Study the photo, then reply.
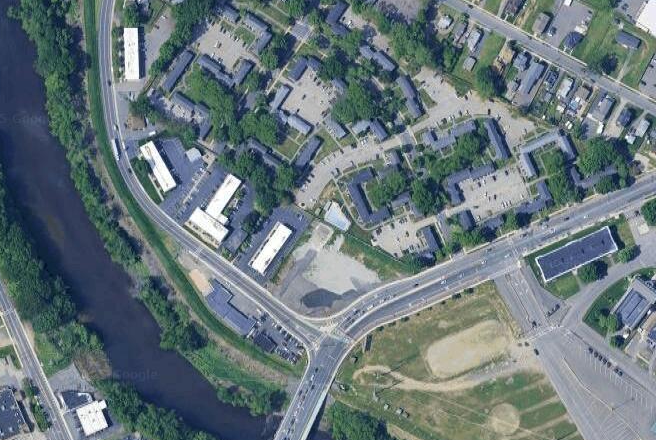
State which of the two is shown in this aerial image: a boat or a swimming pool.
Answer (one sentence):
The image shows a swimming pool.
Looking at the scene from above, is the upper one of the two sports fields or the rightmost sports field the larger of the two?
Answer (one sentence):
Compared with the rightmost sports field, the upper one of the two sports fields is the bigger one.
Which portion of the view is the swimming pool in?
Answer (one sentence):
The swimming pool appears toward the center of the photo.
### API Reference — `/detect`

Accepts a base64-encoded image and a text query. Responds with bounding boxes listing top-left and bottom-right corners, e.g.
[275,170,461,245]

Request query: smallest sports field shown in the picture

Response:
[489,404,519,435]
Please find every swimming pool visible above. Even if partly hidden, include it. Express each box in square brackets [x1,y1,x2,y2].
[323,200,350,231]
